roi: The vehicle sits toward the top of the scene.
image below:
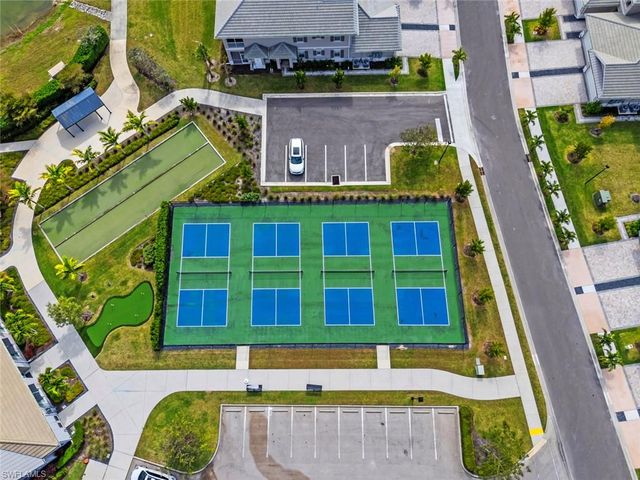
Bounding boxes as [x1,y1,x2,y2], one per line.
[288,138,306,176]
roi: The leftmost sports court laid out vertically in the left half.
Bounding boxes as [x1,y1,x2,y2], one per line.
[176,223,231,327]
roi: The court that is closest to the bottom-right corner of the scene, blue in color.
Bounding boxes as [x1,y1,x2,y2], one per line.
[392,221,448,324]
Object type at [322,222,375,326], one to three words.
sports court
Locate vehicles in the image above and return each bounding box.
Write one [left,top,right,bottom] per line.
[128,466,178,480]
[288,138,306,176]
